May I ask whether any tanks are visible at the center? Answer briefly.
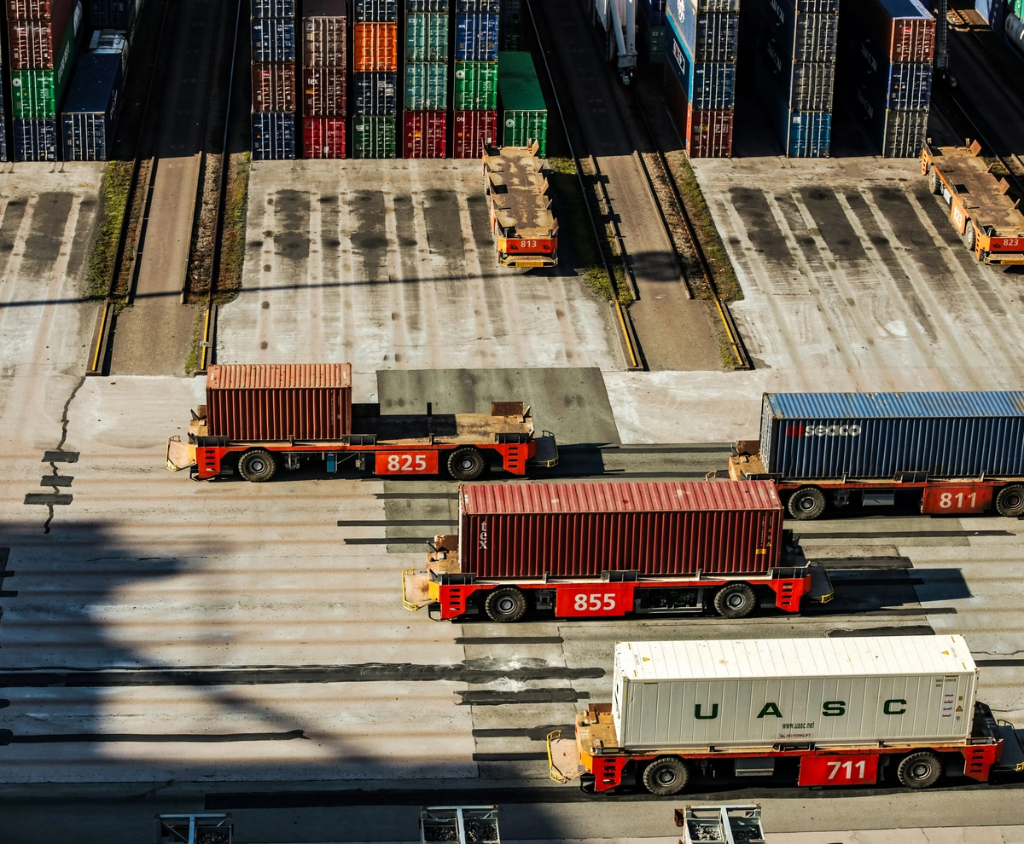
No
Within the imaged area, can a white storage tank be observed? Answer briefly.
No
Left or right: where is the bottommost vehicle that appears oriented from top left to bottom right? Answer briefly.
right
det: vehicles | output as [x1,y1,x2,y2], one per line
[482,140,558,266]
[923,141,1024,266]
[401,531,834,620]
[705,441,1024,517]
[548,694,1024,794]
[165,404,557,481]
